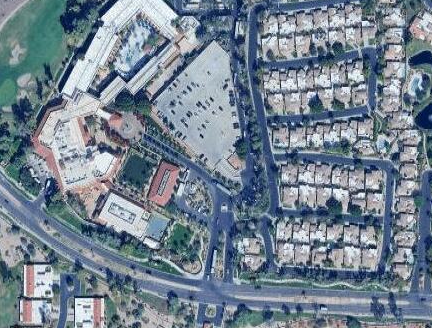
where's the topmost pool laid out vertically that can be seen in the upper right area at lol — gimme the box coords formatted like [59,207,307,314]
[410,68,423,95]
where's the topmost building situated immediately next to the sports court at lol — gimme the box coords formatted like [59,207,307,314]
[148,160,179,207]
